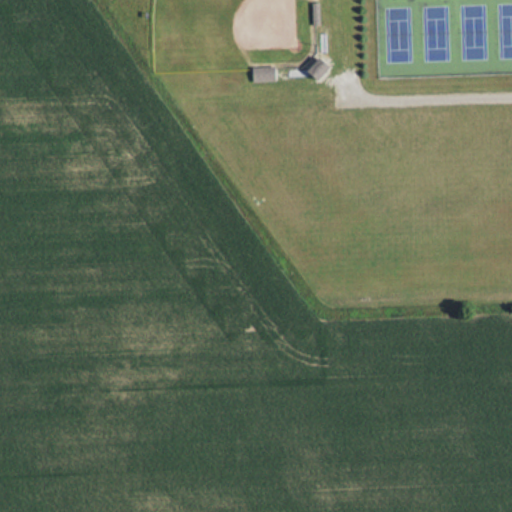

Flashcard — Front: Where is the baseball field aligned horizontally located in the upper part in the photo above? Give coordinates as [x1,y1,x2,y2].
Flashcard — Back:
[154,0,319,72]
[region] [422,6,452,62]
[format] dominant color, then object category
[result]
blue tennis court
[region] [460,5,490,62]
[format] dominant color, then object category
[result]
blue tennis court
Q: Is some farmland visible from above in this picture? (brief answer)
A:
Yes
